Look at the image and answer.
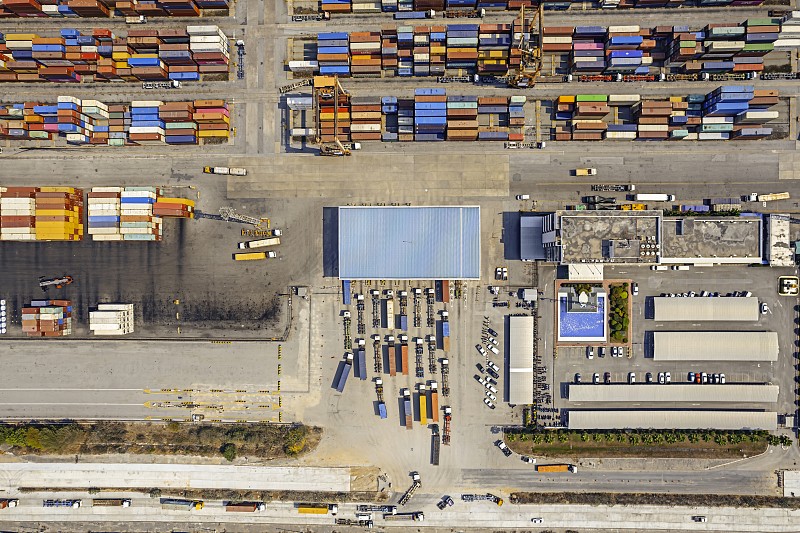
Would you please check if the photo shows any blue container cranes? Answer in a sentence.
No, I can't see a single blue container crane in this photo.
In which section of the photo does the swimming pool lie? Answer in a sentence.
You can find the swimming pool in the right area of the picture.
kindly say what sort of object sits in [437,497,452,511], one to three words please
vehicle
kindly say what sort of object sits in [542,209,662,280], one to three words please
building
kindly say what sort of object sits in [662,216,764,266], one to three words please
building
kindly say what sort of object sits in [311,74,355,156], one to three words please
container crane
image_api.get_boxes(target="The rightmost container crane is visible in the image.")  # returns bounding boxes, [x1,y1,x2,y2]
[505,0,548,85]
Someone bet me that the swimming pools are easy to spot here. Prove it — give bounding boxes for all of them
[558,286,608,342]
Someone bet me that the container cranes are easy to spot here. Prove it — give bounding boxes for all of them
[311,74,355,156]
[505,0,548,85]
